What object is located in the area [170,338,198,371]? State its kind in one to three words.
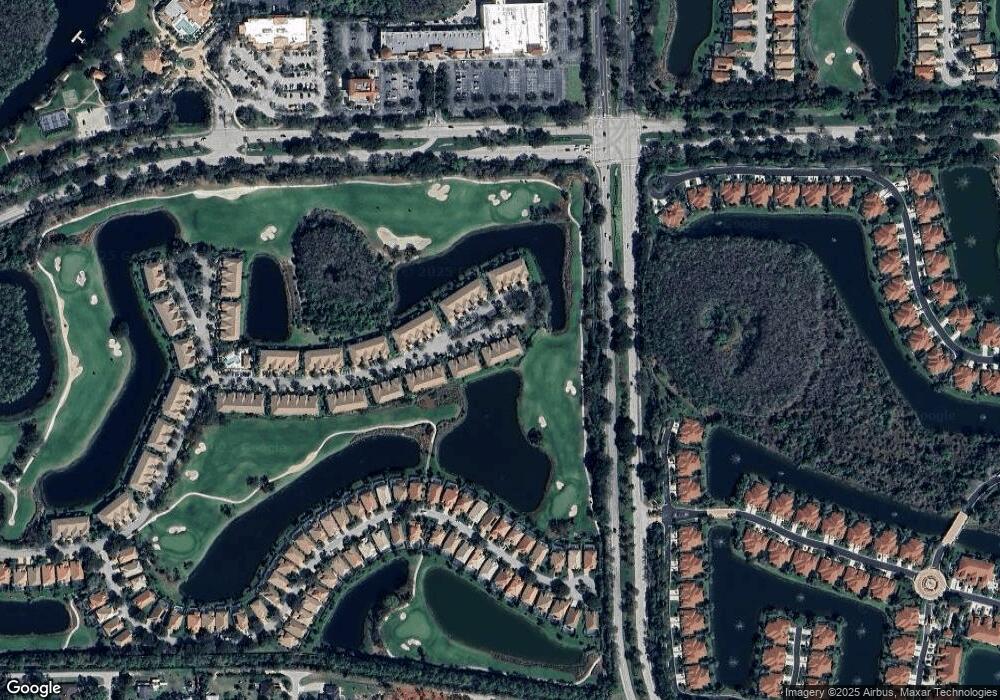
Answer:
house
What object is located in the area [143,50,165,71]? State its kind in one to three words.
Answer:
building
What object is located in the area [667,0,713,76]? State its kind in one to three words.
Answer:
pond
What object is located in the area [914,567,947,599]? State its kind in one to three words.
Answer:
roundabout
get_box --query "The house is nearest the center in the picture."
[480,335,524,367]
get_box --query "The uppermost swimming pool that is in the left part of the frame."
[178,16,198,37]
